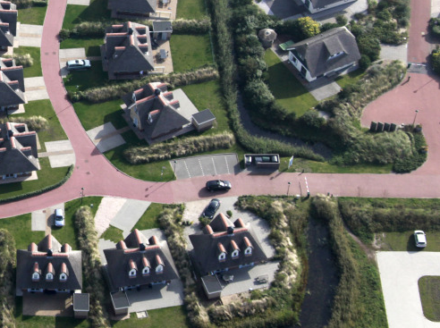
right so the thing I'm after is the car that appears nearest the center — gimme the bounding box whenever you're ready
[205,179,230,192]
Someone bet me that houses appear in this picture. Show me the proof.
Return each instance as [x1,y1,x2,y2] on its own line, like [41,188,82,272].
[17,234,84,294]
[103,228,179,292]
[300,0,340,15]
[0,122,41,179]
[108,0,157,17]
[287,27,358,83]
[191,212,267,276]
[0,0,22,51]
[100,21,155,75]
[122,82,192,141]
[0,58,28,111]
